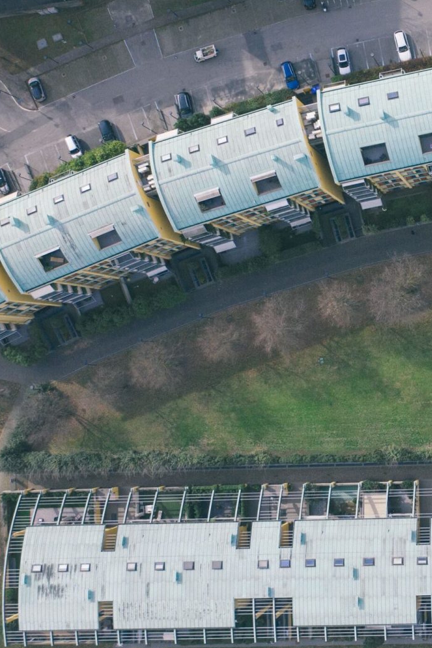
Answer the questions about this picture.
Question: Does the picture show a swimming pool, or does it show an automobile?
automobile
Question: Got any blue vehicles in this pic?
Yes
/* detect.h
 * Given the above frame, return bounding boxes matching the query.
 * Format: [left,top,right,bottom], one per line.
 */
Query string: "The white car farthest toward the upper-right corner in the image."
[395,30,412,57]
